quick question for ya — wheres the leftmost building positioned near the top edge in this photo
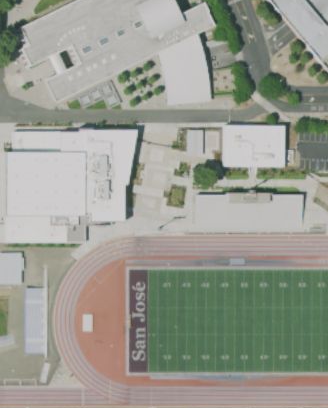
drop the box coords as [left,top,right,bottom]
[22,0,216,105]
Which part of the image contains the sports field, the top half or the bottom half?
bottom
